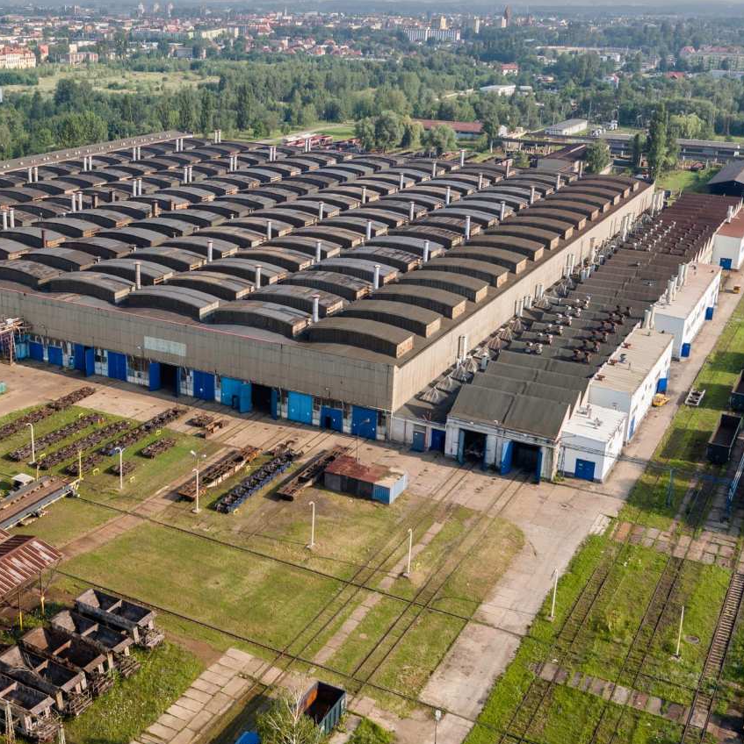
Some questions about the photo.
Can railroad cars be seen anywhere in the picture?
Yes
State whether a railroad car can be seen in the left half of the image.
Yes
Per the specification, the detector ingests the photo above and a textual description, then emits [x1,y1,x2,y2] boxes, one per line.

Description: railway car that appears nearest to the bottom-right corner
[705,414,742,465]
